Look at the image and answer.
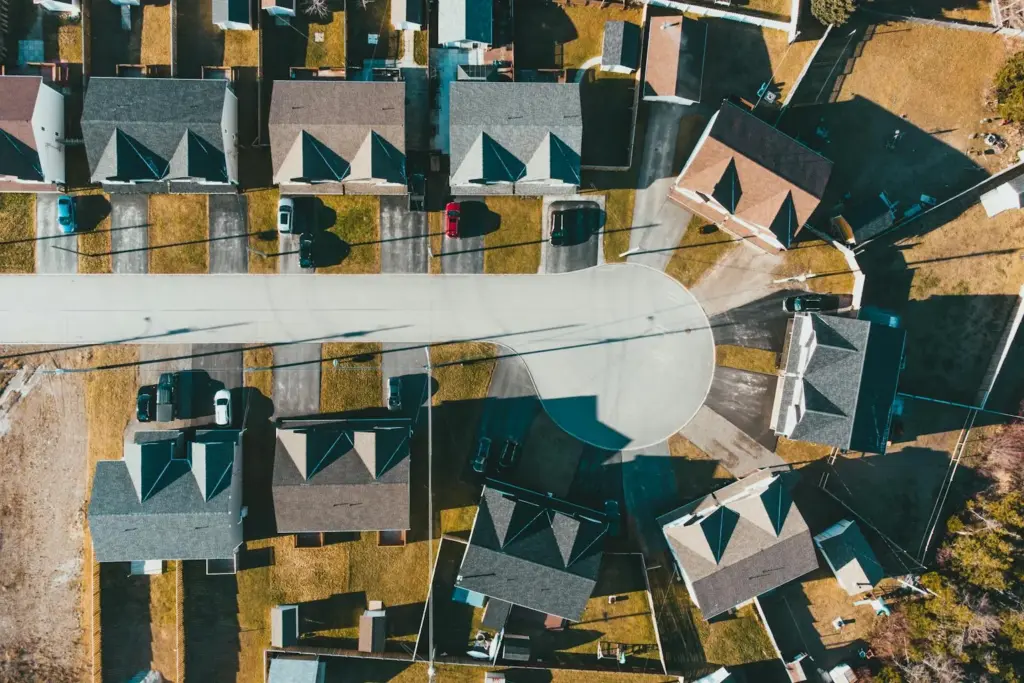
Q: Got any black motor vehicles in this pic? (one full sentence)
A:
Yes, looking at the shot, I can spot a black motor vehicle.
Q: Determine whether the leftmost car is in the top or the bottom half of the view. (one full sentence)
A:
The leftmost car sits in the top half of the picture.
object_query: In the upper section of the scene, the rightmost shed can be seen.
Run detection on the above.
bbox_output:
[980,173,1024,220]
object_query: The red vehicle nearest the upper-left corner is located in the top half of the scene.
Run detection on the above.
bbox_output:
[444,203,462,238]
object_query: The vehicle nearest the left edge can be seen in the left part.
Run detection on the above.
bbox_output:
[56,196,77,232]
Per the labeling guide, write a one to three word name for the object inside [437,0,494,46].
building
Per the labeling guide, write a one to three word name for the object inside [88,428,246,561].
house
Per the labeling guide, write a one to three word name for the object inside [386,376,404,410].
car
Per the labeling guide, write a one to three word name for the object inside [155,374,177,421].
truck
